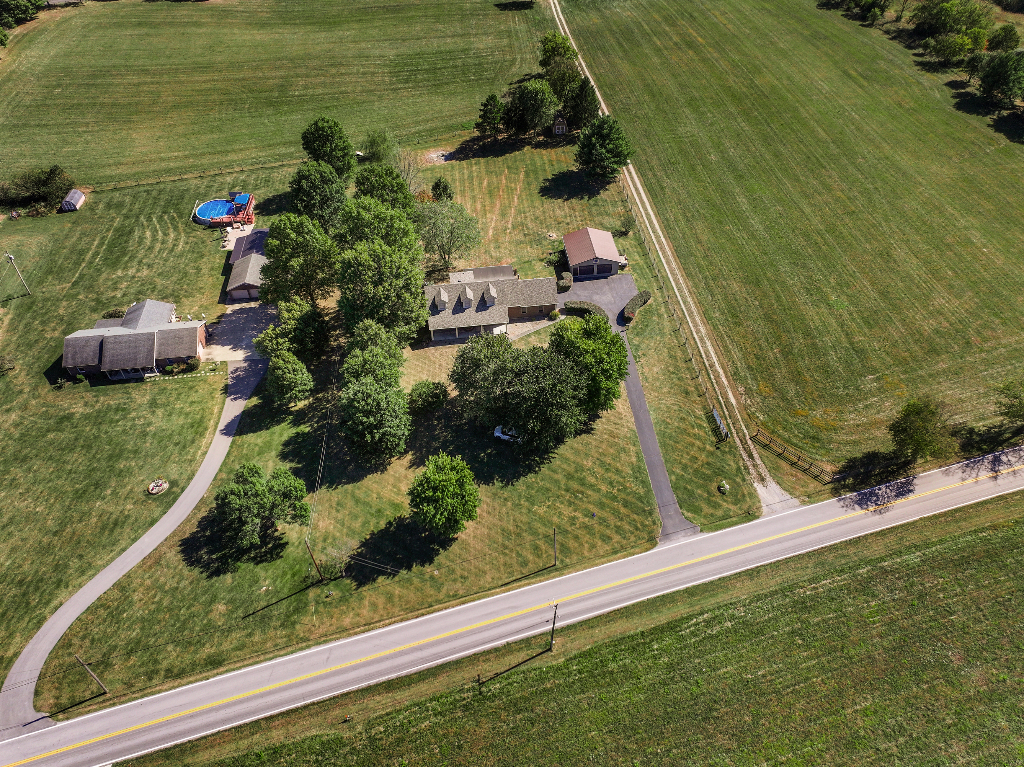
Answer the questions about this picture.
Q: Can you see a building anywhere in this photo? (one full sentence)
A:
Yes, the picture does show a building.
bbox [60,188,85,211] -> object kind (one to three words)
shed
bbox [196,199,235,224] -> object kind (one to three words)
swimming pool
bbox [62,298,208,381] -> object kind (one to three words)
house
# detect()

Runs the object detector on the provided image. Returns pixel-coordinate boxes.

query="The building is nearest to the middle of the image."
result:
[425,264,559,341]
